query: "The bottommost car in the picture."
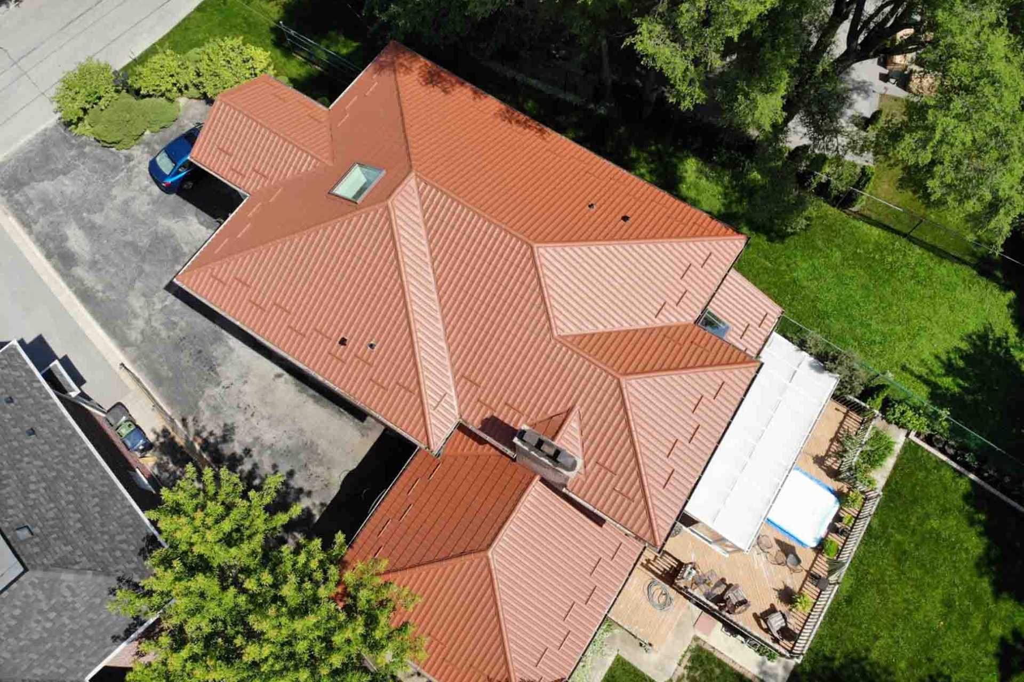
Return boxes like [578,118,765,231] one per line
[152,121,205,187]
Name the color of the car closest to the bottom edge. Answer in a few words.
blue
